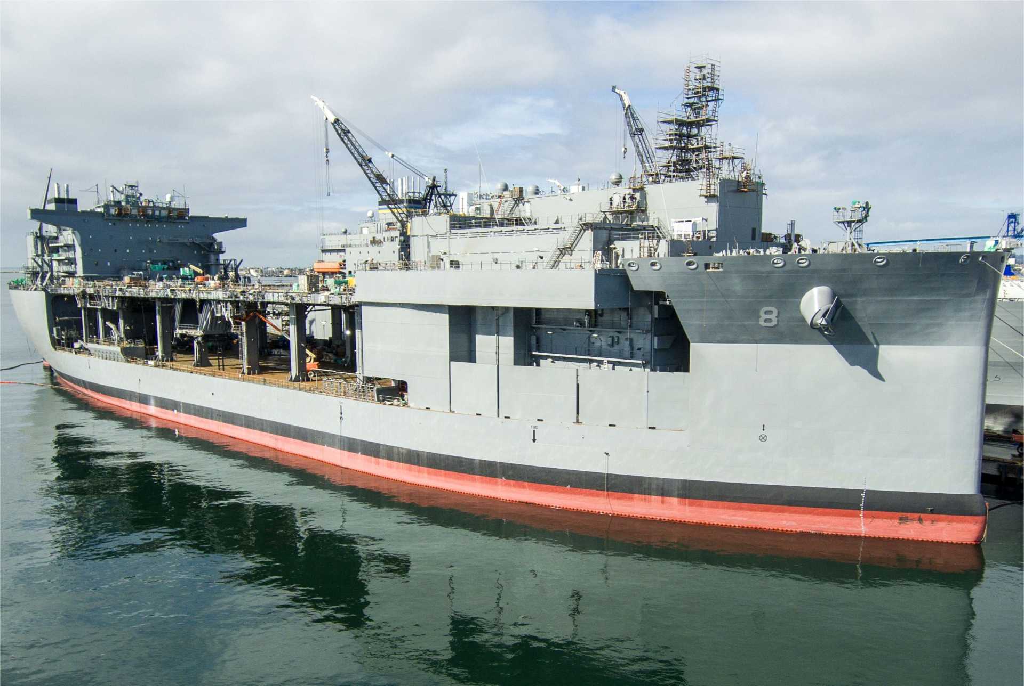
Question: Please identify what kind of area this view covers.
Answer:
port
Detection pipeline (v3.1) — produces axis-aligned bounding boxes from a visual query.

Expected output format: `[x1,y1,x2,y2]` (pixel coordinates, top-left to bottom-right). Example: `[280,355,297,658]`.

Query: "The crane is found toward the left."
[310,94,458,270]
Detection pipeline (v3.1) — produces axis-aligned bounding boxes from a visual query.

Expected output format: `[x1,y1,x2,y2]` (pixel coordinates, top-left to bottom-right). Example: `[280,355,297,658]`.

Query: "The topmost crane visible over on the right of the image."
[608,82,672,185]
